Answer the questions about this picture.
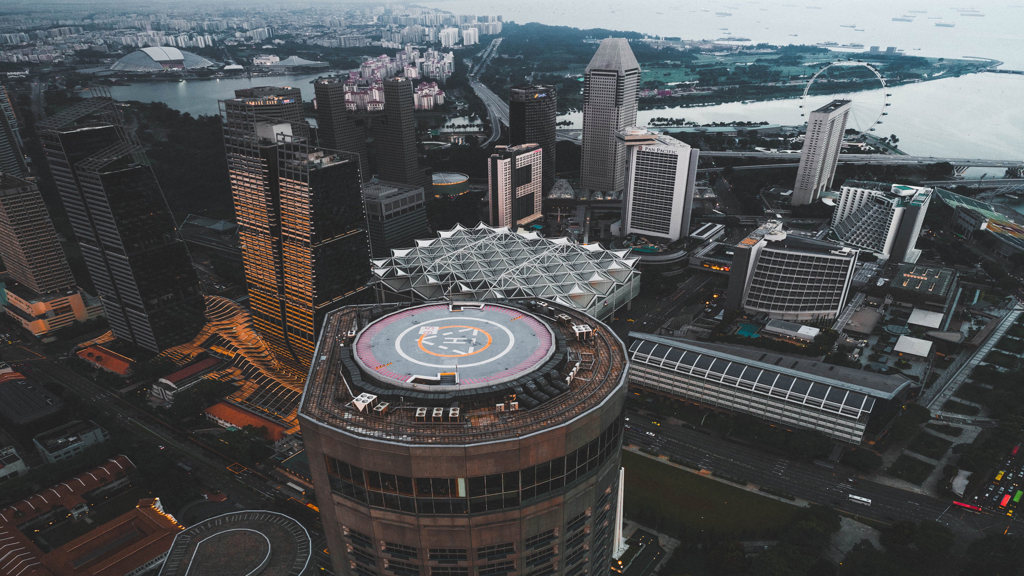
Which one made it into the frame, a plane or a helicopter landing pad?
helicopter landing pad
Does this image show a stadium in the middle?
No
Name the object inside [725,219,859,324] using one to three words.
building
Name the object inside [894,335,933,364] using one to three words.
building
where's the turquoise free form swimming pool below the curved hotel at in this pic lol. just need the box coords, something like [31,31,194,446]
[736,322,762,338]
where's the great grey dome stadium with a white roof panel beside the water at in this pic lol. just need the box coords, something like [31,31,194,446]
[105,45,217,70]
